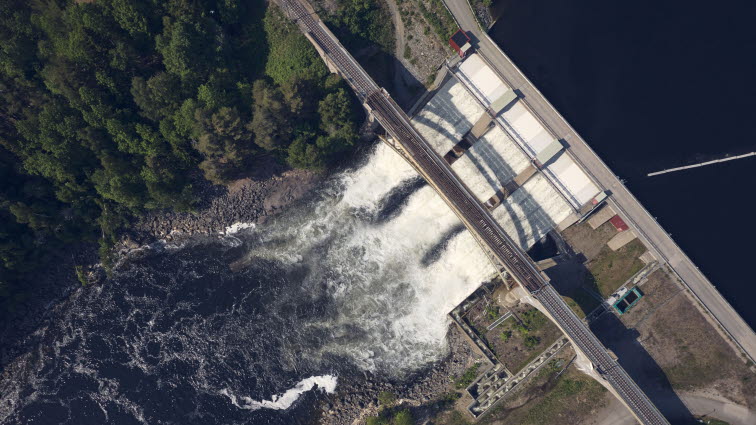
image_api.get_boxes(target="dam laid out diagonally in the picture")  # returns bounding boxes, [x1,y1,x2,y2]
[405,0,756,373]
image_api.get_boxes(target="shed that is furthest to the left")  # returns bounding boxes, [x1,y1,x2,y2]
[449,30,471,55]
